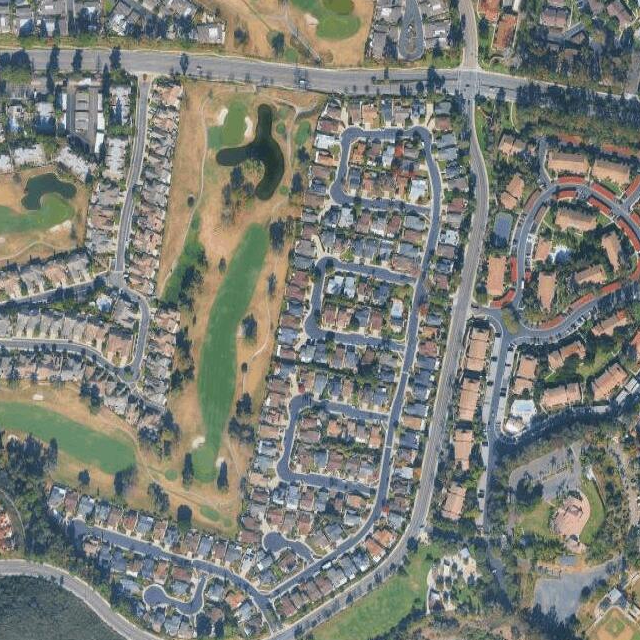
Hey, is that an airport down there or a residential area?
residential area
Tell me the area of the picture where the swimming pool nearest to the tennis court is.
right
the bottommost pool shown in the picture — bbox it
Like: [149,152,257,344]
[511,399,536,425]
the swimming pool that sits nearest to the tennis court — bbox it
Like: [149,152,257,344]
[552,244,572,265]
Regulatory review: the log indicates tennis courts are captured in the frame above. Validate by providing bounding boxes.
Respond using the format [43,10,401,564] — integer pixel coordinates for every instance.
[491,211,512,247]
